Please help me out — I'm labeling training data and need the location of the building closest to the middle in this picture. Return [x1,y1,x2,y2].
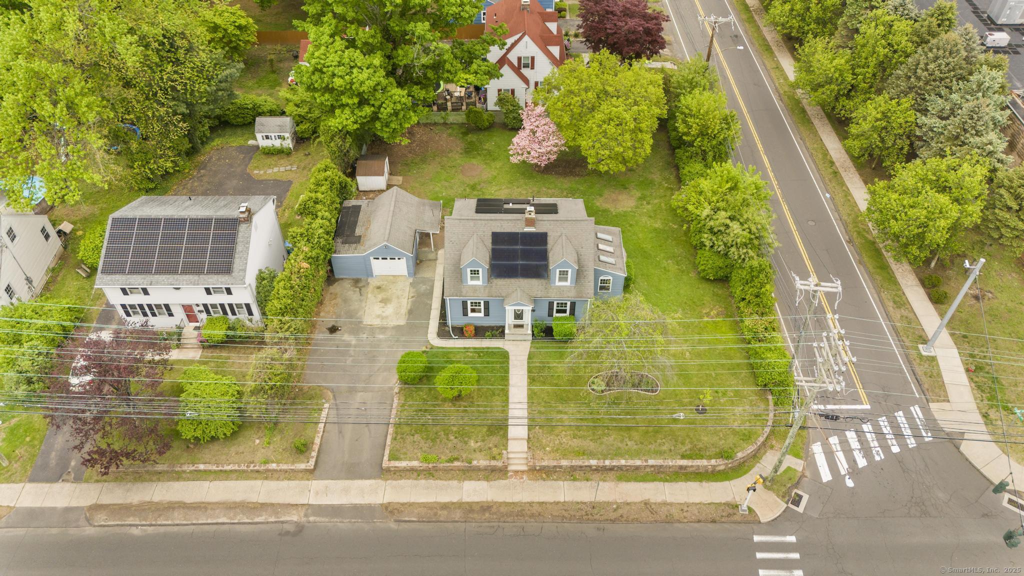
[443,193,630,343]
